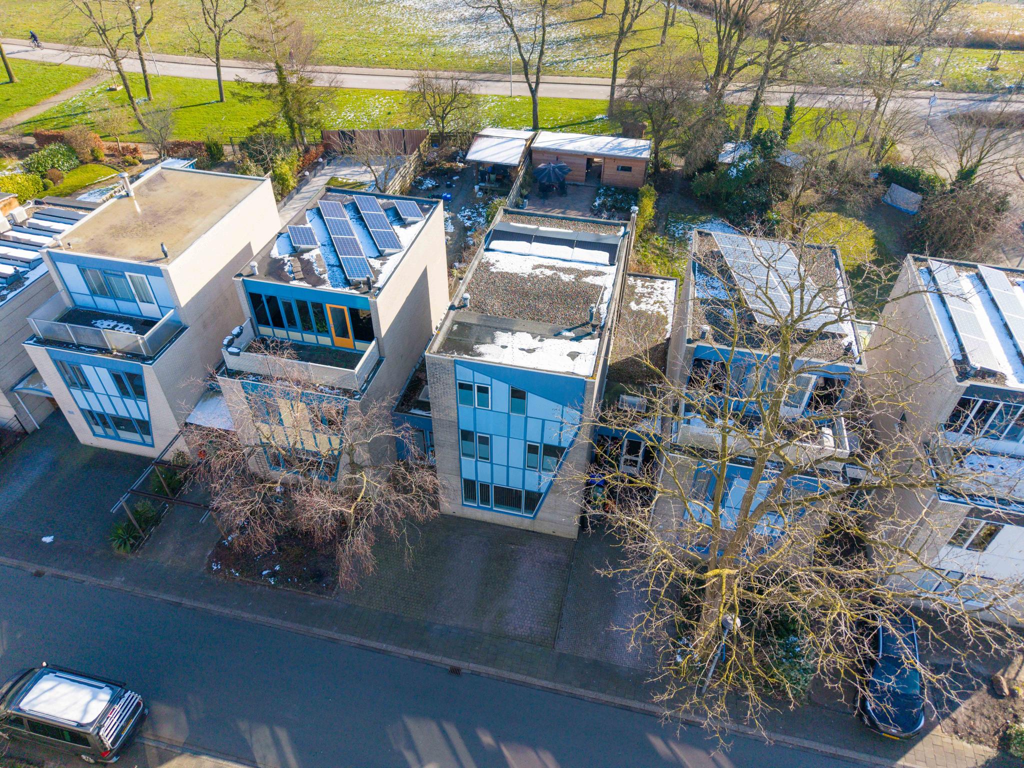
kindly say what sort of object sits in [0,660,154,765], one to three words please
van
